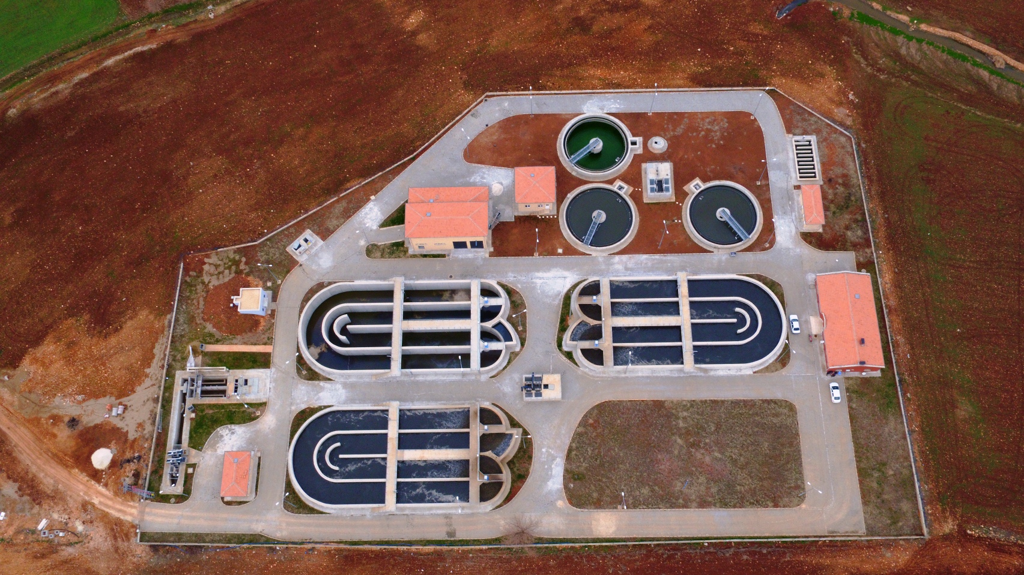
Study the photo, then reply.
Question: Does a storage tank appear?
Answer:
Yes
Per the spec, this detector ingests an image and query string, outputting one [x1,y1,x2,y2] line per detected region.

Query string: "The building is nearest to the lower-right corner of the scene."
[807,272,885,378]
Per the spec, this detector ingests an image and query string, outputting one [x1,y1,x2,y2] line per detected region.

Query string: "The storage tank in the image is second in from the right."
[682,176,763,254]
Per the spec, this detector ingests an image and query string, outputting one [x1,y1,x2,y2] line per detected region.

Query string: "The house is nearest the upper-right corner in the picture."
[793,184,828,232]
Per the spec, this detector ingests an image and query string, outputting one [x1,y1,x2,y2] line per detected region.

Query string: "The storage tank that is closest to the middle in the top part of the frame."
[559,178,639,256]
